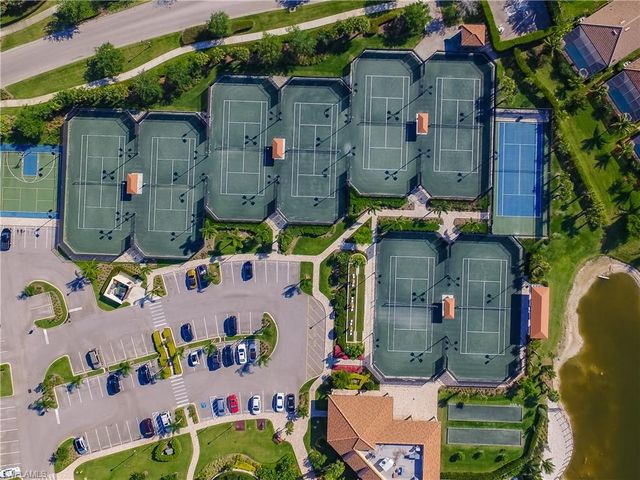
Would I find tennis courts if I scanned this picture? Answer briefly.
Yes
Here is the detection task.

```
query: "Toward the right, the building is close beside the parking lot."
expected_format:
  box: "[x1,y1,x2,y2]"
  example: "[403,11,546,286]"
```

[328,391,441,480]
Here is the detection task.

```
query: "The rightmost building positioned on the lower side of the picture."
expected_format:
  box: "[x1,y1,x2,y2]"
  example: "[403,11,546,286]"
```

[526,282,551,340]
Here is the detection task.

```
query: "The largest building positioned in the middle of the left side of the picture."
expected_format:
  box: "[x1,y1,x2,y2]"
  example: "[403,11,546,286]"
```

[104,274,136,303]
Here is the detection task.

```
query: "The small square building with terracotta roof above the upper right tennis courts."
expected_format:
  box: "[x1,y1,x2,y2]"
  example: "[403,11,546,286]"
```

[458,24,487,49]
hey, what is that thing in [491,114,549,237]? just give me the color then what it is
blue tennis court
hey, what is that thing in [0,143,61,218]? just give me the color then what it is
green basketball court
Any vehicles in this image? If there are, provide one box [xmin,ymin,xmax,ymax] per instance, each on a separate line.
[224,346,234,367]
[217,397,226,415]
[161,409,172,431]
[248,344,258,364]
[229,394,239,414]
[286,394,295,412]
[191,349,201,368]
[183,322,194,342]
[198,265,211,289]
[211,351,222,372]
[238,343,248,363]
[141,364,152,385]
[498,26,505,35]
[110,373,122,394]
[227,316,237,337]
[276,392,284,412]
[1,228,12,251]
[252,395,261,414]
[188,269,198,289]
[244,261,253,281]
[143,418,155,438]
[76,436,88,455]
